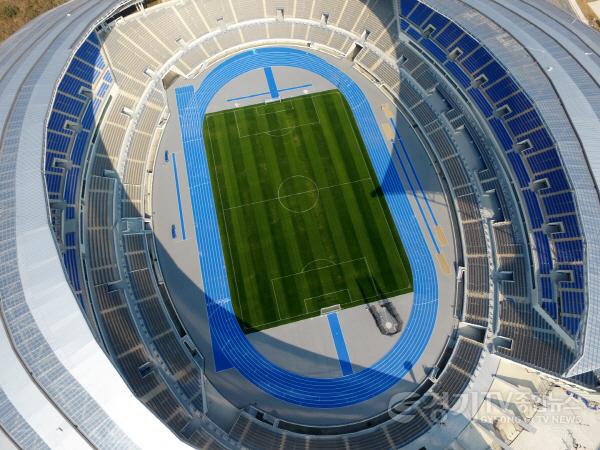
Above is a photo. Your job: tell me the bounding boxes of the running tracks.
[176,47,437,410]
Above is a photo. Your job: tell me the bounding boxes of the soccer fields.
[204,90,412,336]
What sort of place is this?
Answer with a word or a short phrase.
sports ground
